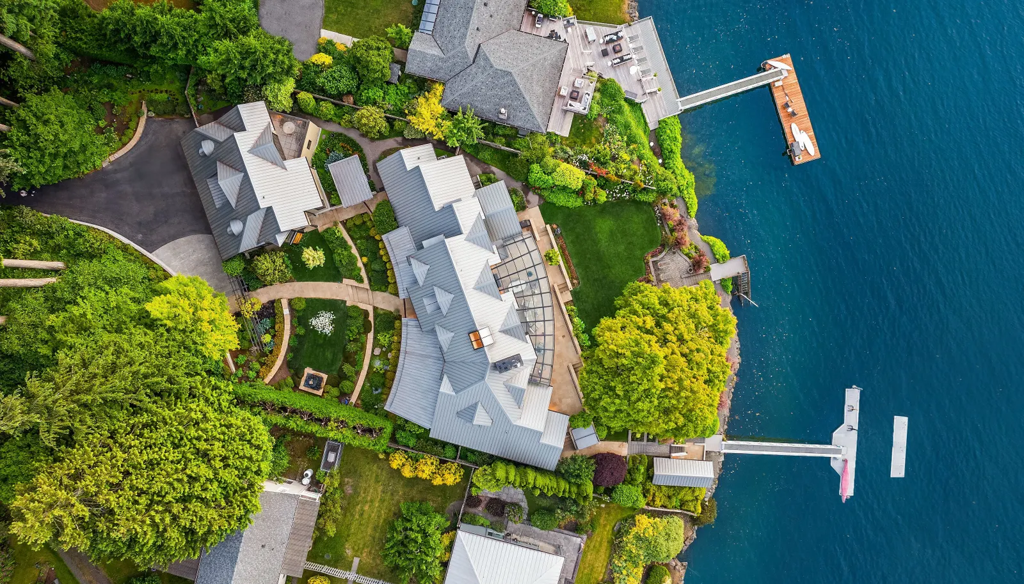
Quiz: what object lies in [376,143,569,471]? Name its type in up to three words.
house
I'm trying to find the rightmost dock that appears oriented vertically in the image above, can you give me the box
[888,415,908,477]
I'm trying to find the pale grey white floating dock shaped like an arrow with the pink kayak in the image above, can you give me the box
[829,389,860,496]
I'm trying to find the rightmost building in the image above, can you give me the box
[651,455,714,488]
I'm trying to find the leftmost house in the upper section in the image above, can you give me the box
[180,101,335,261]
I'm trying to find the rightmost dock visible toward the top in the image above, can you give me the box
[764,55,821,166]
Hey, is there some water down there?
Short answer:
Yes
